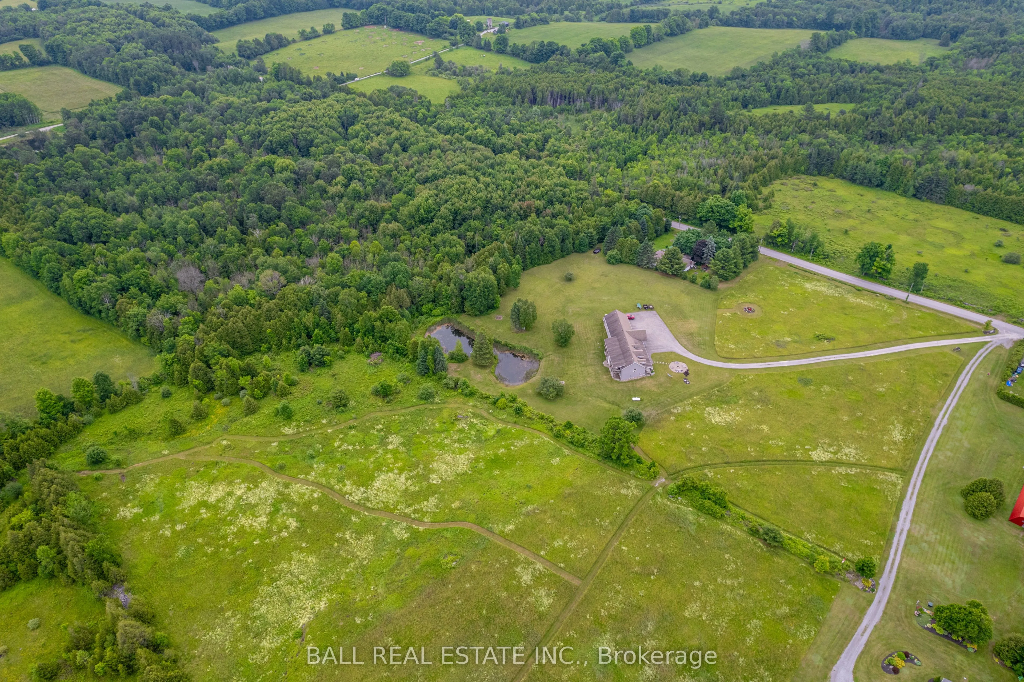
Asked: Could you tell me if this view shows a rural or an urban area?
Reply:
rural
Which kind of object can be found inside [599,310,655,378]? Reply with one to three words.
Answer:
house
